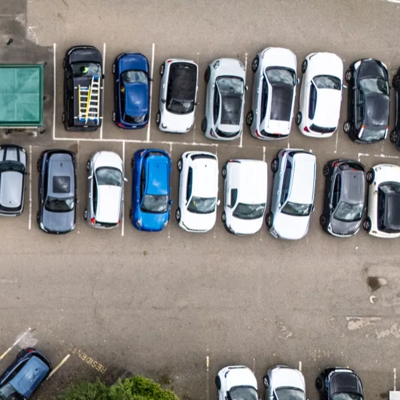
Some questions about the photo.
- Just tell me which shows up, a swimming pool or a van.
van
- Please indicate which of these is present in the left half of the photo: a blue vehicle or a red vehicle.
blue vehicle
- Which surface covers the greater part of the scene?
paved ground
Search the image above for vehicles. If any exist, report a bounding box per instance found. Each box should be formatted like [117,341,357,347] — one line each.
[262,364,313,400]
[298,53,350,137]
[318,366,372,400]
[319,158,371,238]
[252,48,305,138]
[112,52,158,129]
[223,158,274,235]
[63,45,110,131]
[38,149,83,234]
[130,149,177,231]
[344,59,398,144]
[0,145,32,217]
[159,60,203,130]
[364,164,400,239]
[0,343,54,400]
[202,60,252,138]
[85,150,130,229]
[177,150,224,232]
[388,64,400,150]
[217,364,269,400]
[269,148,320,240]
